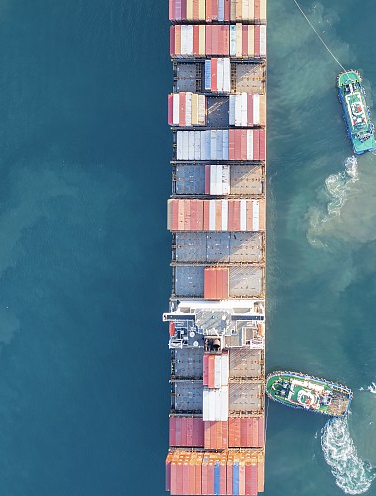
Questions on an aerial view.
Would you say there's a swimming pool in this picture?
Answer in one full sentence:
No, the picture doesn't show any swimming pool.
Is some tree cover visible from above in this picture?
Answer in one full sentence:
No, the scene doesn't show any tree cover.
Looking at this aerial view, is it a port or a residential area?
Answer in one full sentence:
What you see here is a port.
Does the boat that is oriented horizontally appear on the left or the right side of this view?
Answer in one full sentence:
The boat that is oriented horizontally appears in the right half of the scene.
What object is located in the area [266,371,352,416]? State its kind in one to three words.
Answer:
boat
